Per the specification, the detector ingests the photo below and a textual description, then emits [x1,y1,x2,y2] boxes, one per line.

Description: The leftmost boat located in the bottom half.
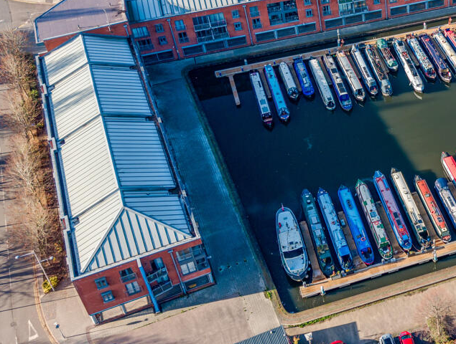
[270,200,308,283]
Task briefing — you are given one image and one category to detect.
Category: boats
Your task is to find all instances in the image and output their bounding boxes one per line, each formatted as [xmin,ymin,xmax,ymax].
[350,44,376,95]
[421,33,450,83]
[438,177,456,233]
[392,39,422,93]
[407,36,434,81]
[279,61,298,101]
[337,50,364,101]
[318,186,354,272]
[249,68,272,125]
[434,32,456,75]
[365,44,390,97]
[391,167,431,250]
[357,178,393,261]
[374,169,413,253]
[378,36,397,72]
[340,184,374,266]
[293,57,313,98]
[415,174,451,244]
[323,52,350,111]
[263,65,288,120]
[302,188,333,277]
[270,200,308,283]
[309,58,334,111]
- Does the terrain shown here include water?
Yes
